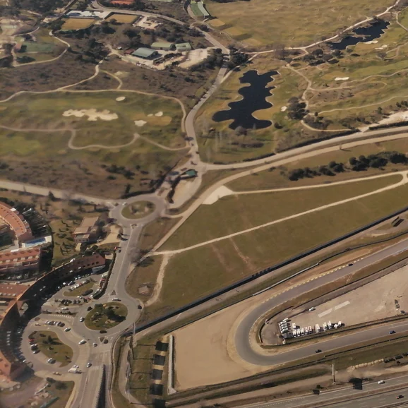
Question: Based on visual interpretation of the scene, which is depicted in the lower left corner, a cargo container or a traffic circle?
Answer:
traffic circle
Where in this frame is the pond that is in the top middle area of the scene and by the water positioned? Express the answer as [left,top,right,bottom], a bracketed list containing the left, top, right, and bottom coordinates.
[213,69,281,128]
